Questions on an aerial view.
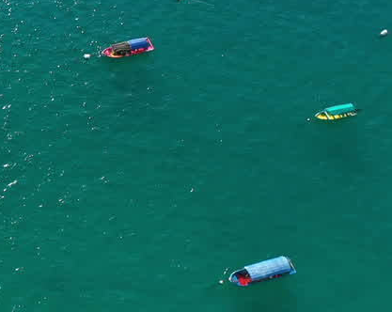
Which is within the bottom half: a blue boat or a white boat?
blue boat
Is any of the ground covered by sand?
No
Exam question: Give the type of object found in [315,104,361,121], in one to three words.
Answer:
boat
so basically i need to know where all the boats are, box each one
[229,258,298,285]
[315,104,361,121]
[102,35,155,56]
